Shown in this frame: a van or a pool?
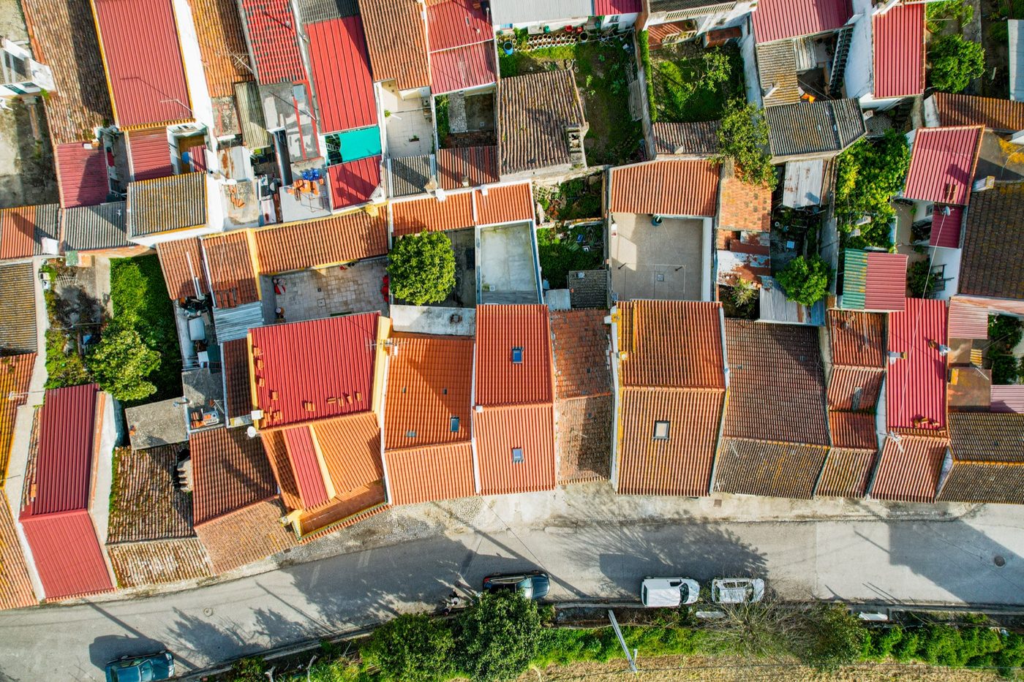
van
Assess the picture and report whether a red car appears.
No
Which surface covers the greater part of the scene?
buildings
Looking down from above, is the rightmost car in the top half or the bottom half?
bottom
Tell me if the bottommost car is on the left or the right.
left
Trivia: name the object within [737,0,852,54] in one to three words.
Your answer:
house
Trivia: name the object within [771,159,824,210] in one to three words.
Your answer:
building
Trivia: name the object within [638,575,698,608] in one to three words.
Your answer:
van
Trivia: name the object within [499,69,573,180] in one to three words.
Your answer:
building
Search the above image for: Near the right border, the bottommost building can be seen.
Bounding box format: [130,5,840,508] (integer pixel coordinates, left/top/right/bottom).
[933,410,1024,507]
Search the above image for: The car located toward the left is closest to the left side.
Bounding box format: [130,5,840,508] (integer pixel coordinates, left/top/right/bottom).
[107,645,181,682]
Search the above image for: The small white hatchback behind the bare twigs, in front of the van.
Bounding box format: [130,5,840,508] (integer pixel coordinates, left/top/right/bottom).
[709,573,764,604]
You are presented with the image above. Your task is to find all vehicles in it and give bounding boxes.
[482,569,551,603]
[709,573,764,604]
[107,645,181,682]
[638,575,698,608]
